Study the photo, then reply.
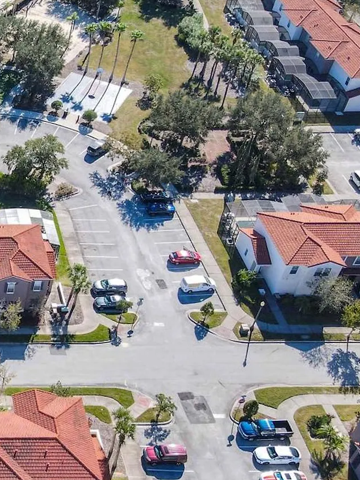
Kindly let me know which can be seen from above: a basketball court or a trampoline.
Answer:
basketball court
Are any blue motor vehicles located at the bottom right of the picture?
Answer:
Yes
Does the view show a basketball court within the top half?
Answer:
Yes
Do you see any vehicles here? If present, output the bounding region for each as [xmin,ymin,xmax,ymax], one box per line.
[166,250,203,266]
[238,417,295,441]
[258,469,306,480]
[82,140,112,157]
[94,295,131,311]
[142,443,190,465]
[349,172,360,191]
[354,129,360,141]
[144,203,178,217]
[252,445,302,467]
[177,274,218,293]
[91,277,130,295]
